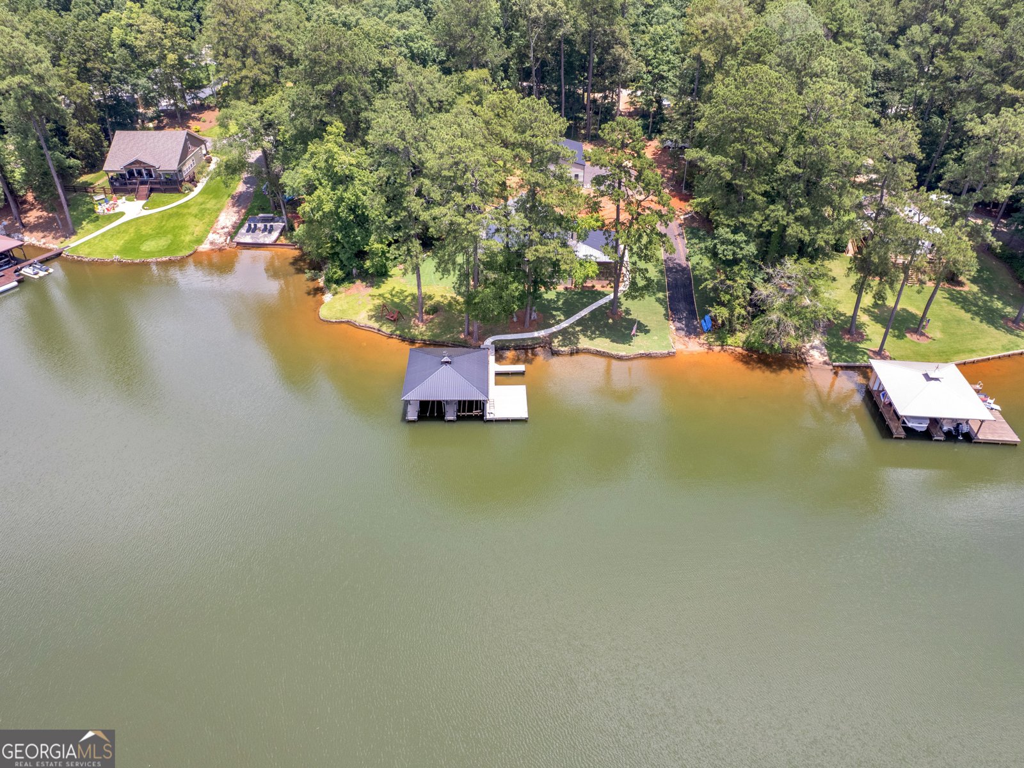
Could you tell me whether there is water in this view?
Yes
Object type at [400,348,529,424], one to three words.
building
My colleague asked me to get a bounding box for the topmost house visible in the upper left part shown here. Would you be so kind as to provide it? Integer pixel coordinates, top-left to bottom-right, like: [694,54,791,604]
[103,130,216,198]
